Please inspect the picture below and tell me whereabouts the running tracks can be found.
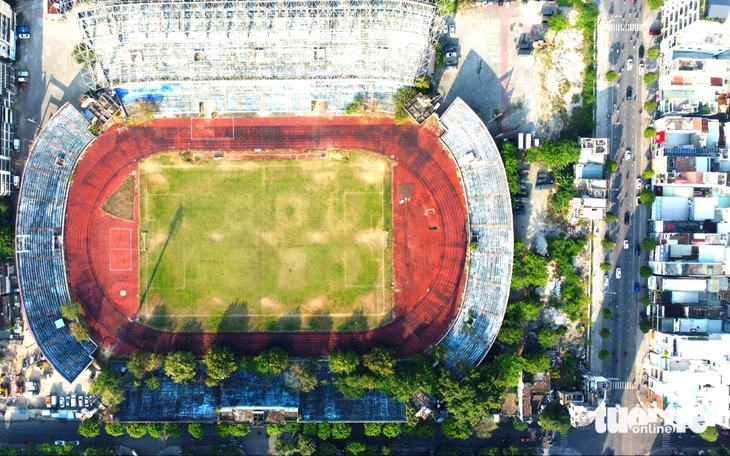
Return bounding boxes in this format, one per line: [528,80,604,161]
[65,116,468,356]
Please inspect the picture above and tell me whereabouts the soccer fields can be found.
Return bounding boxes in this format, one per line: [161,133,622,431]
[139,150,393,331]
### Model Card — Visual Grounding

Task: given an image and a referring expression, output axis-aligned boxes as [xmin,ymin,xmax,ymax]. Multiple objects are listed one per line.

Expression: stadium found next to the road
[14,0,515,423]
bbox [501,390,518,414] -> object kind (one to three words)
house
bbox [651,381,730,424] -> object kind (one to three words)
house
